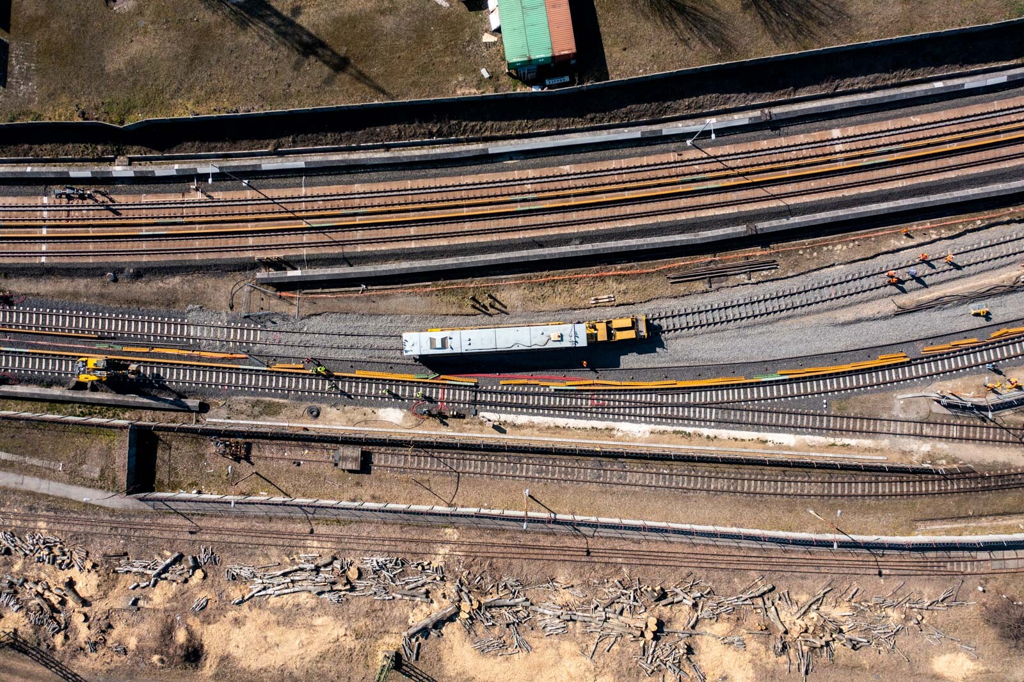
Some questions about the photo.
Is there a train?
Yes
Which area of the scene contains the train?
center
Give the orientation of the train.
from side to side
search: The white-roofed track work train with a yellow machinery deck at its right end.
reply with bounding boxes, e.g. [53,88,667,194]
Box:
[403,314,650,355]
